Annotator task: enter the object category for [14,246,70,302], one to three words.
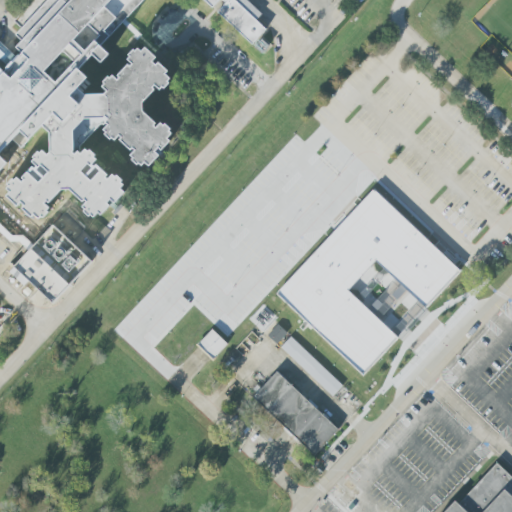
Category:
building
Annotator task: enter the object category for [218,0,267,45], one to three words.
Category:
building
